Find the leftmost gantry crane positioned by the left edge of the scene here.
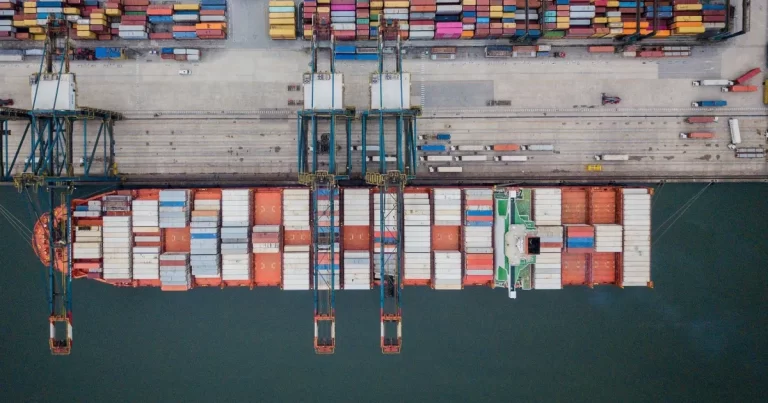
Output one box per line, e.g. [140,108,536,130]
[0,104,57,180]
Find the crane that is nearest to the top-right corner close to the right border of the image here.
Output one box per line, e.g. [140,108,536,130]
[700,0,751,45]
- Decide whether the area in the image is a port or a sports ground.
port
